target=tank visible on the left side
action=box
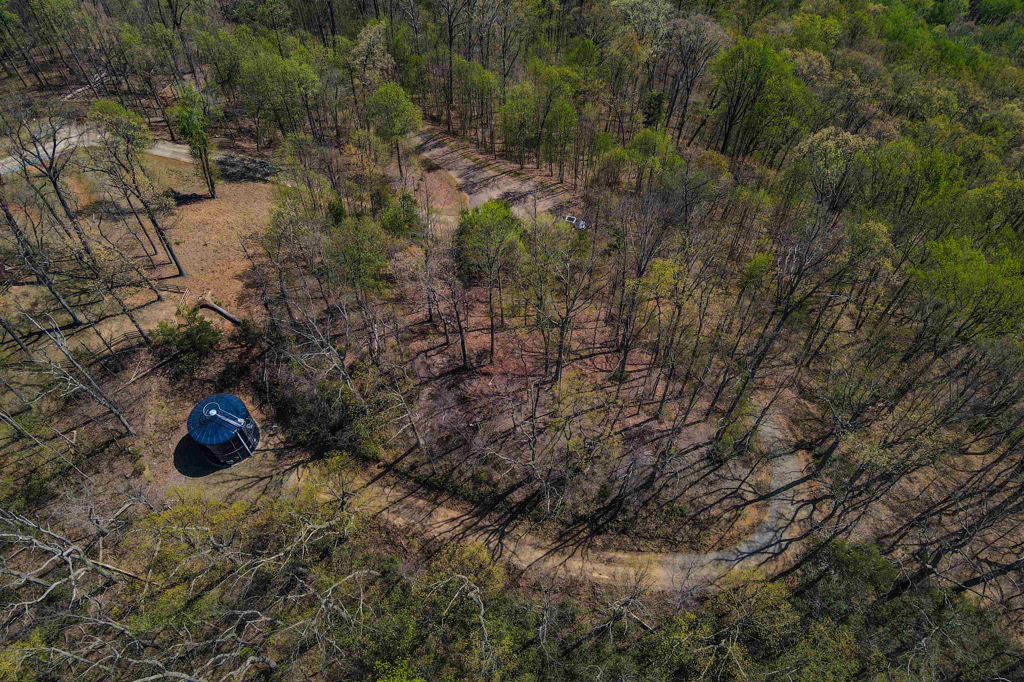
[186,393,261,467]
